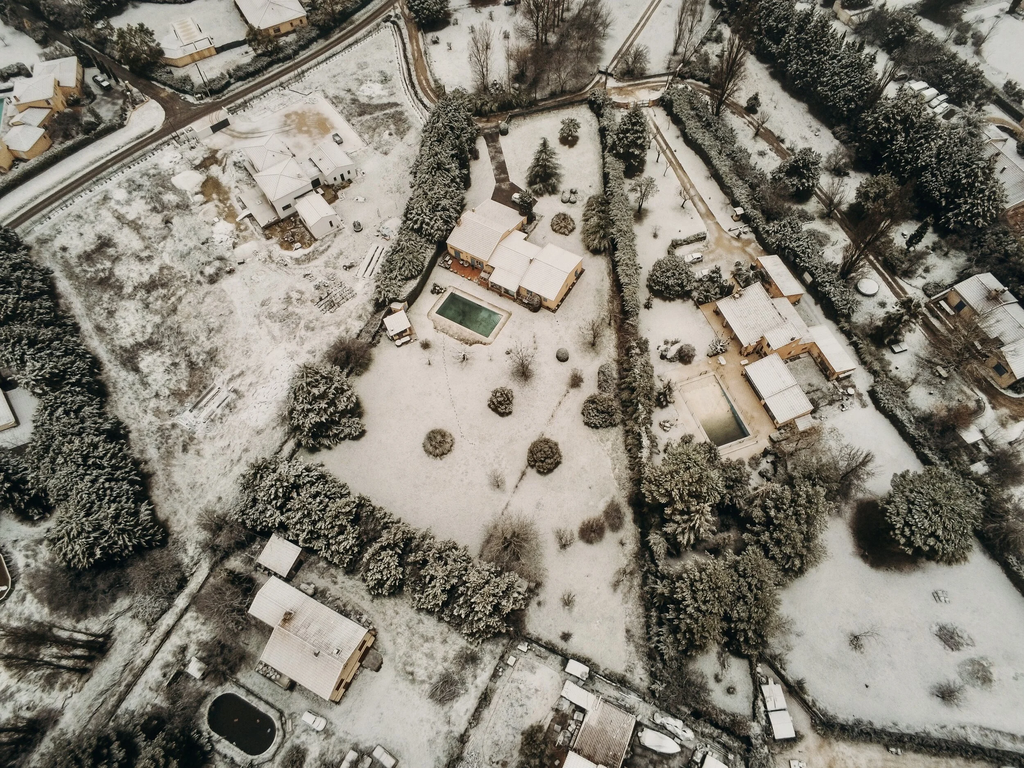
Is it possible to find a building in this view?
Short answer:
Yes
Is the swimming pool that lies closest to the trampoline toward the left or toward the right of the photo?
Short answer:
right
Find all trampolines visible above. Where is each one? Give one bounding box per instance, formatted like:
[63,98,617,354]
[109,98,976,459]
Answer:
[856,278,880,295]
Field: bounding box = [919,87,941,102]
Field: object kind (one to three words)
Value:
vehicle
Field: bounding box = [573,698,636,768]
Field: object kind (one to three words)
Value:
barn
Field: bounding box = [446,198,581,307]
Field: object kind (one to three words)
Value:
house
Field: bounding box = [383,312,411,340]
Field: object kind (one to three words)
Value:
building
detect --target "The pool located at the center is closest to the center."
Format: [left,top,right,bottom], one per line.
[430,288,508,341]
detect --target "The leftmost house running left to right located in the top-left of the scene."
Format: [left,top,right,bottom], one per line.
[160,37,217,69]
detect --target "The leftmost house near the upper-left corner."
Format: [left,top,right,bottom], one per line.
[0,56,86,175]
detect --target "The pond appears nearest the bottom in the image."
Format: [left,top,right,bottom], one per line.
[206,690,276,760]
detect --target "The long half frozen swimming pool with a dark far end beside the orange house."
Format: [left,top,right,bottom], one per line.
[675,369,756,450]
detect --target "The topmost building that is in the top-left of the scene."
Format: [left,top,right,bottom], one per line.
[236,0,307,36]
